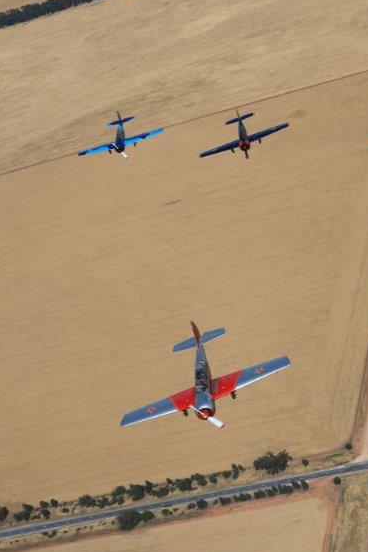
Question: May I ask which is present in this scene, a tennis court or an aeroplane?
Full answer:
The image shows an aeroplane.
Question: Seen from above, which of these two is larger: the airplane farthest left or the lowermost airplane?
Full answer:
Compared with the airplane farthest left, the lowermost airplane is the larger one.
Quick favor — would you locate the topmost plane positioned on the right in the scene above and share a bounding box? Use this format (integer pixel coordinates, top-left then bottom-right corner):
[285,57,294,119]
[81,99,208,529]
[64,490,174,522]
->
[199,107,289,157]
